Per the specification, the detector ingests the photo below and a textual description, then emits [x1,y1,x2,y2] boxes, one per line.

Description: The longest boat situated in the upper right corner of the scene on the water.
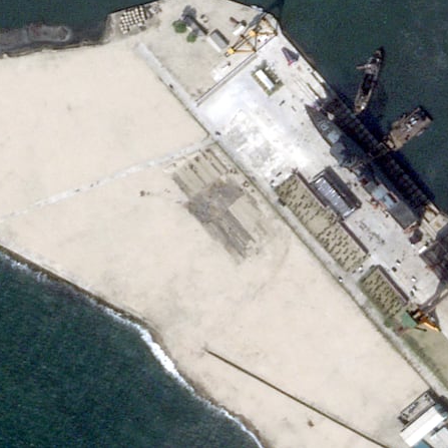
[357,48,384,112]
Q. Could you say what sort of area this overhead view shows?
port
